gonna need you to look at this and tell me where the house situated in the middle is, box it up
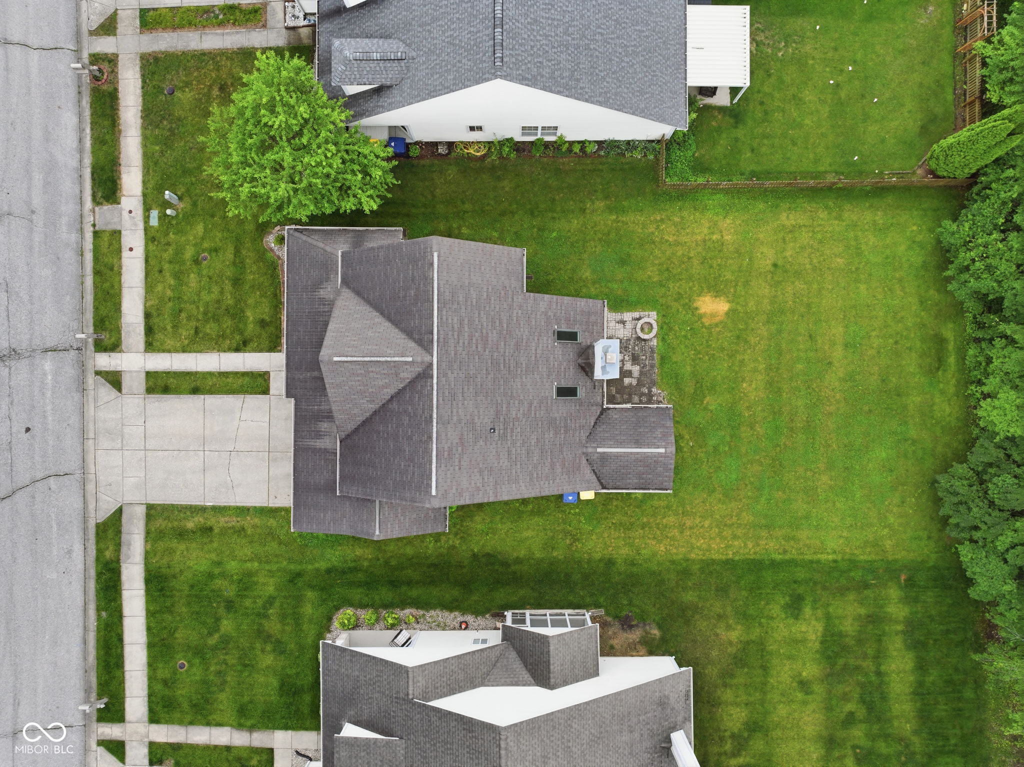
[283,226,676,541]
